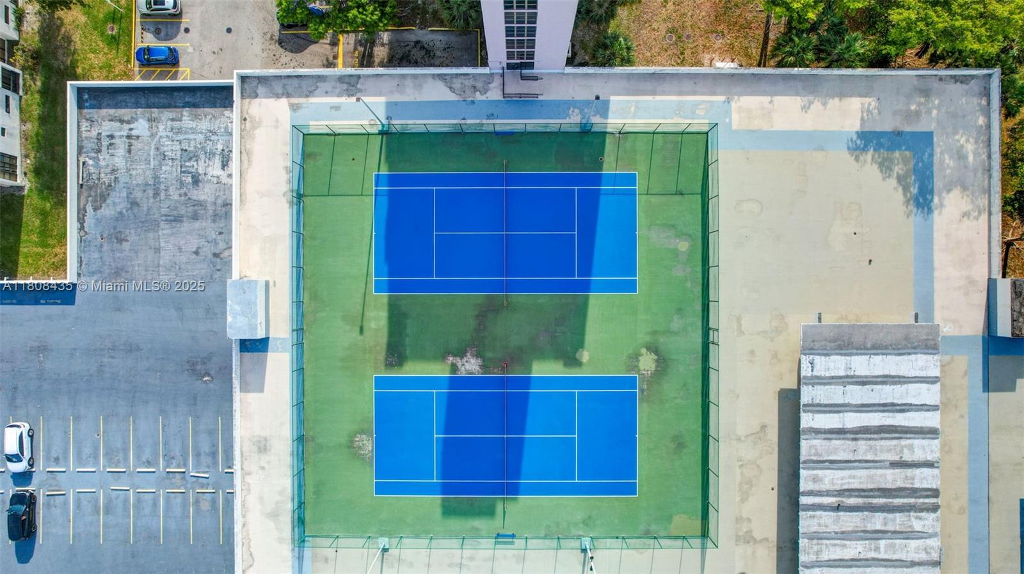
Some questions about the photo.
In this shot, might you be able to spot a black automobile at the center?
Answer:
No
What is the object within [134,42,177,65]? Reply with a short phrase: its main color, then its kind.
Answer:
blue car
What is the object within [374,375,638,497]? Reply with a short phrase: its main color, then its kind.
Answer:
blue tennis court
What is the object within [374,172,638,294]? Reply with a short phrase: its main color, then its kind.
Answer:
blue tennis court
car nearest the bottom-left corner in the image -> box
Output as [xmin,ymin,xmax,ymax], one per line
[6,491,36,541]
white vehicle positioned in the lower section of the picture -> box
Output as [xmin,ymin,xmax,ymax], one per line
[3,423,33,472]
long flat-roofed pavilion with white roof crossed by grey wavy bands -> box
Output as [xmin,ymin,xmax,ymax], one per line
[798,312,940,574]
